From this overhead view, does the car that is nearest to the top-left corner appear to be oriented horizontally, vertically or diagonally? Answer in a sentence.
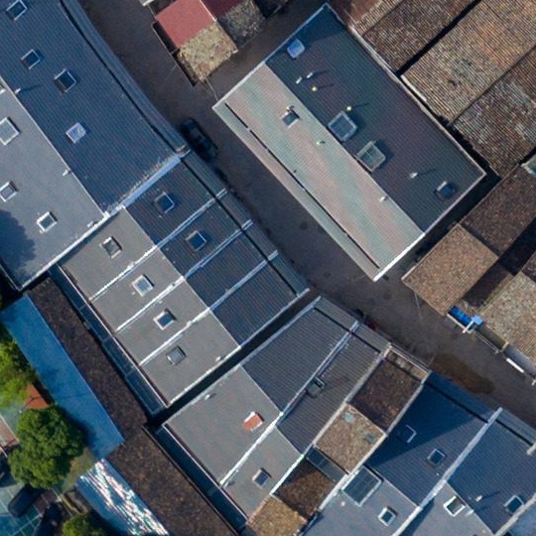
The car that is nearest to the top-left corner is oriented diagonally.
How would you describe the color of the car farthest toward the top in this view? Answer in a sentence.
The car farthest toward the top looks black in the image.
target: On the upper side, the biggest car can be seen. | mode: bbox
[180,116,220,161]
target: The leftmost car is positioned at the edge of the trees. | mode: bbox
[5,480,44,521]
